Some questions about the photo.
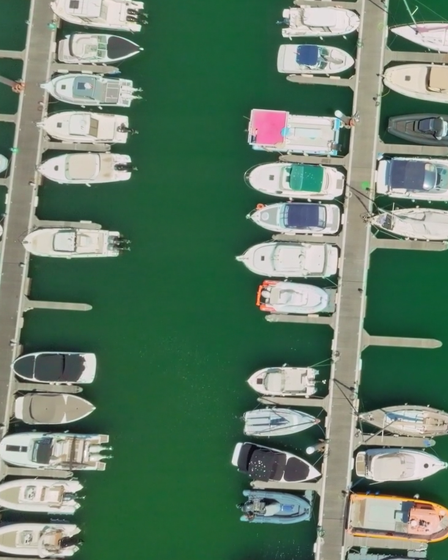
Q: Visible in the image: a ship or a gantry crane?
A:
ship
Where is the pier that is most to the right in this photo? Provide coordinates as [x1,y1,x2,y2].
[251,0,448,560]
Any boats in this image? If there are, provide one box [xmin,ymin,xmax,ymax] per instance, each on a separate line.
[387,116,448,147]
[10,353,102,386]
[0,522,94,555]
[391,0,448,54]
[231,489,315,521]
[30,111,144,145]
[34,152,144,187]
[357,402,448,440]
[0,429,111,468]
[228,242,341,278]
[253,279,330,314]
[46,0,155,33]
[376,157,448,206]
[243,404,320,436]
[380,63,448,103]
[61,31,142,65]
[356,447,448,483]
[239,160,347,203]
[34,73,151,109]
[244,200,343,236]
[18,393,96,424]
[361,200,448,242]
[344,490,448,544]
[0,478,95,513]
[0,156,9,172]
[236,448,321,483]
[272,0,361,41]
[18,229,135,260]
[277,45,354,77]
[244,363,331,397]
